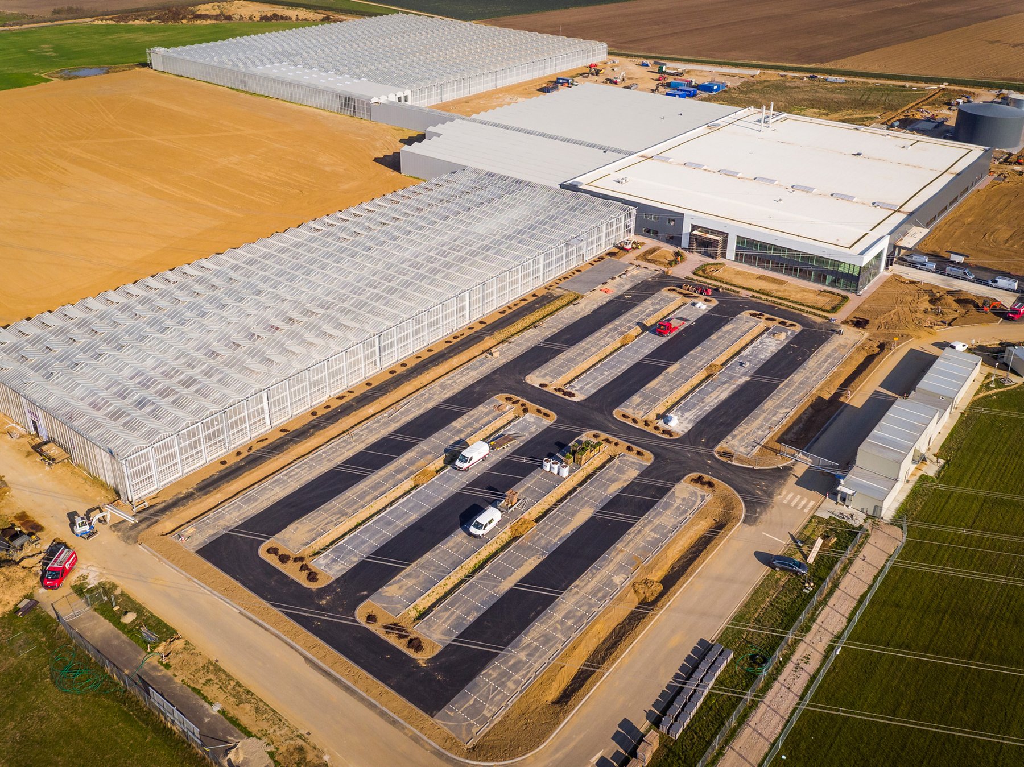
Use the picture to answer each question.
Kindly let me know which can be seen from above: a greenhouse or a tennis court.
greenhouse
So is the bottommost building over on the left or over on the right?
right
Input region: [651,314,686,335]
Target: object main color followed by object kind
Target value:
red truck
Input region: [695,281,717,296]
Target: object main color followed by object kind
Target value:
red work vehicle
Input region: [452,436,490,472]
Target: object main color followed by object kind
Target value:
white van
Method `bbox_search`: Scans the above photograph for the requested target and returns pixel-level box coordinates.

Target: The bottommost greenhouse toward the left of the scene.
[0,164,638,503]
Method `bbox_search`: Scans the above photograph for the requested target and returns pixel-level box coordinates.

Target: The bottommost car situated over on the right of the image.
[765,553,806,576]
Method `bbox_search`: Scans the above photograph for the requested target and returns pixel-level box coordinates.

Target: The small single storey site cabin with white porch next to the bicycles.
[831,465,897,517]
